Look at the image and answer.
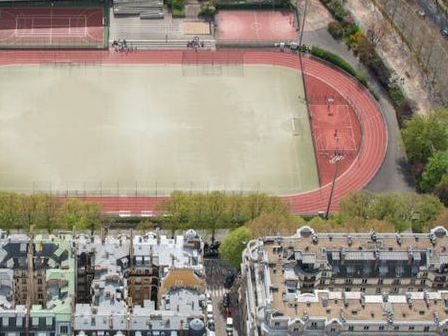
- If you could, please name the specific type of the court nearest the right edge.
basketball court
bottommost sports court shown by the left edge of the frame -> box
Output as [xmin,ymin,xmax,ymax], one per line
[1,8,102,42]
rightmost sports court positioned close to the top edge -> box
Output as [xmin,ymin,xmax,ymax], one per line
[213,10,299,39]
